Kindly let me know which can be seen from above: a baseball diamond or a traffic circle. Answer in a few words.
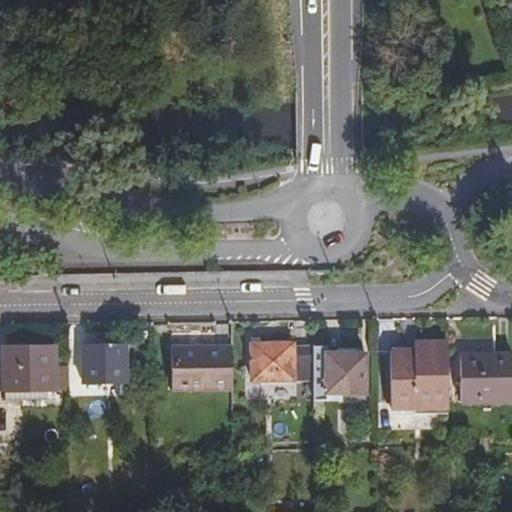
traffic circle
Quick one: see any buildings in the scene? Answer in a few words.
Yes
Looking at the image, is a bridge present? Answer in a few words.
Yes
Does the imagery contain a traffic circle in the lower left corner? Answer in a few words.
No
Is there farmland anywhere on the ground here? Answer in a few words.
No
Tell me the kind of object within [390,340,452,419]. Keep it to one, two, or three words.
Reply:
house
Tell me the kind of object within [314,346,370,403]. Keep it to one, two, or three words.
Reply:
house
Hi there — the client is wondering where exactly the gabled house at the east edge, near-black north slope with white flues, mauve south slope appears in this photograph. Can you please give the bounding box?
[461,351,512,406]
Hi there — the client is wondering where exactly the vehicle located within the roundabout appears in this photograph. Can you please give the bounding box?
[323,232,344,246]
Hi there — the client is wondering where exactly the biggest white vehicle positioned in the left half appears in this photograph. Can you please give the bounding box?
[156,284,187,296]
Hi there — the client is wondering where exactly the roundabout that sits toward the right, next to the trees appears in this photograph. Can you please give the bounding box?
[278,184,374,265]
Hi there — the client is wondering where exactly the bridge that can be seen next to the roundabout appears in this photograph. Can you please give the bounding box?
[296,92,362,152]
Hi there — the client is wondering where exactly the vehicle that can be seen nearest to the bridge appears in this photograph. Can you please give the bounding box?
[310,143,322,172]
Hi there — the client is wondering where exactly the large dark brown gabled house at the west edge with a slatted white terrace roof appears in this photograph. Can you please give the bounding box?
[0,346,68,400]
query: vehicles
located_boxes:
[323,232,344,246]
[61,285,80,295]
[380,408,390,428]
[307,0,318,12]
[156,284,187,296]
[241,282,262,293]
[310,143,322,172]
